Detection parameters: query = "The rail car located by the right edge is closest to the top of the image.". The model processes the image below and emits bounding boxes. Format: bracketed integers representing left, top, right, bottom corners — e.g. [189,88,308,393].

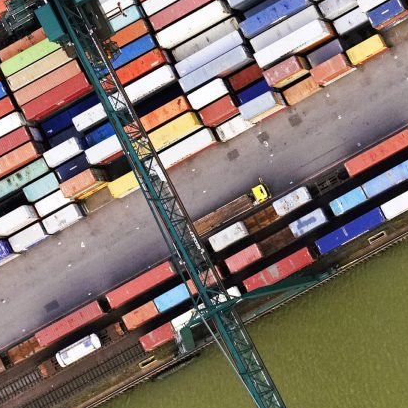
[311,149,408,200]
